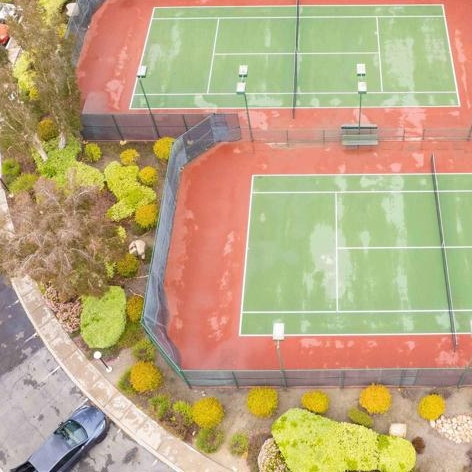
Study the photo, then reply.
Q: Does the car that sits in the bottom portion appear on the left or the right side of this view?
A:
left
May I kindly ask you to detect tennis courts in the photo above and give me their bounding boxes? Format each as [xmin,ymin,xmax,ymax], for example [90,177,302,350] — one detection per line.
[154,137,472,372]
[78,0,472,139]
